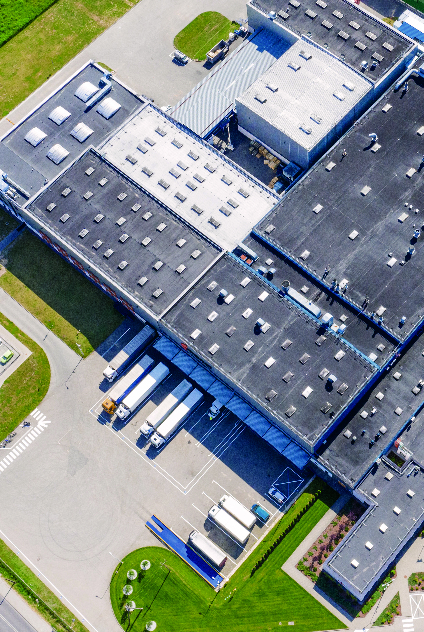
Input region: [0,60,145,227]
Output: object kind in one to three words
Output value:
building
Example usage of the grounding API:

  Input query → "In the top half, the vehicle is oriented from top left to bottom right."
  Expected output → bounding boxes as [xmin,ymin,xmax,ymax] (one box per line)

[173,49,189,64]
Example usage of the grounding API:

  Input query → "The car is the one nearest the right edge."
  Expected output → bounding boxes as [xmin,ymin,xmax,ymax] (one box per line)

[270,487,286,502]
